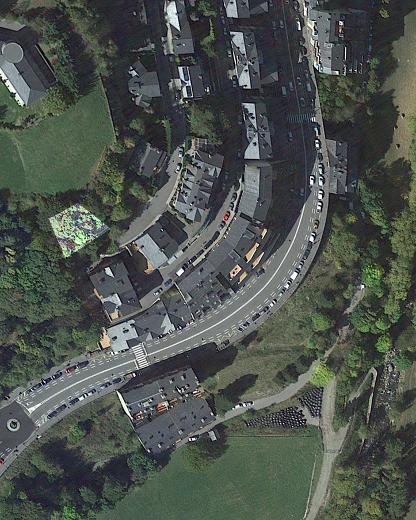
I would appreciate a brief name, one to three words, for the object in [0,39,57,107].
house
